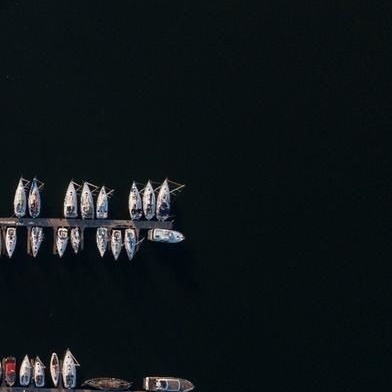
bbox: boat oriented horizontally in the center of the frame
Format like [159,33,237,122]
[145,229,185,243]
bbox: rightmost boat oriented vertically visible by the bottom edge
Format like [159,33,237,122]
[62,348,81,389]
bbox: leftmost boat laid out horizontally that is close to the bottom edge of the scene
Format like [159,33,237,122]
[82,378,135,390]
